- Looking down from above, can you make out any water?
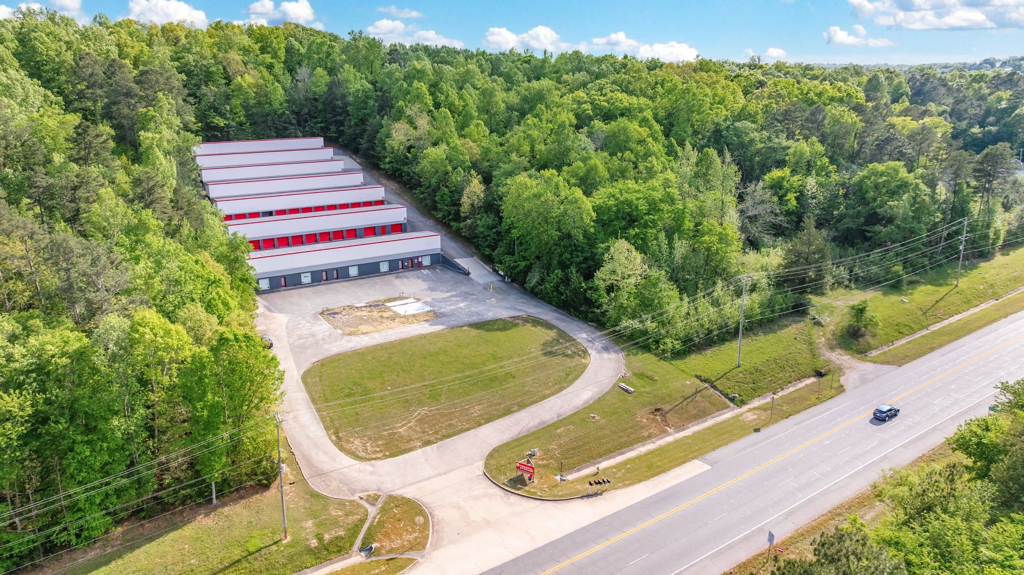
No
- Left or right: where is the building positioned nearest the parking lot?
left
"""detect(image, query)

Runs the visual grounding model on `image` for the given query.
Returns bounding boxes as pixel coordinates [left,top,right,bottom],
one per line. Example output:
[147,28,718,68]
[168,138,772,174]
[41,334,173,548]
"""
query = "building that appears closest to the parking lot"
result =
[240,233,442,296]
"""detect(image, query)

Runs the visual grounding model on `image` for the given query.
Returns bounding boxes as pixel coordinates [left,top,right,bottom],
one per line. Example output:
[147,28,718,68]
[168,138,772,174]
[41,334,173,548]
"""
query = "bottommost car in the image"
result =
[871,402,901,421]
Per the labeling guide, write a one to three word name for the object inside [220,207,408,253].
building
